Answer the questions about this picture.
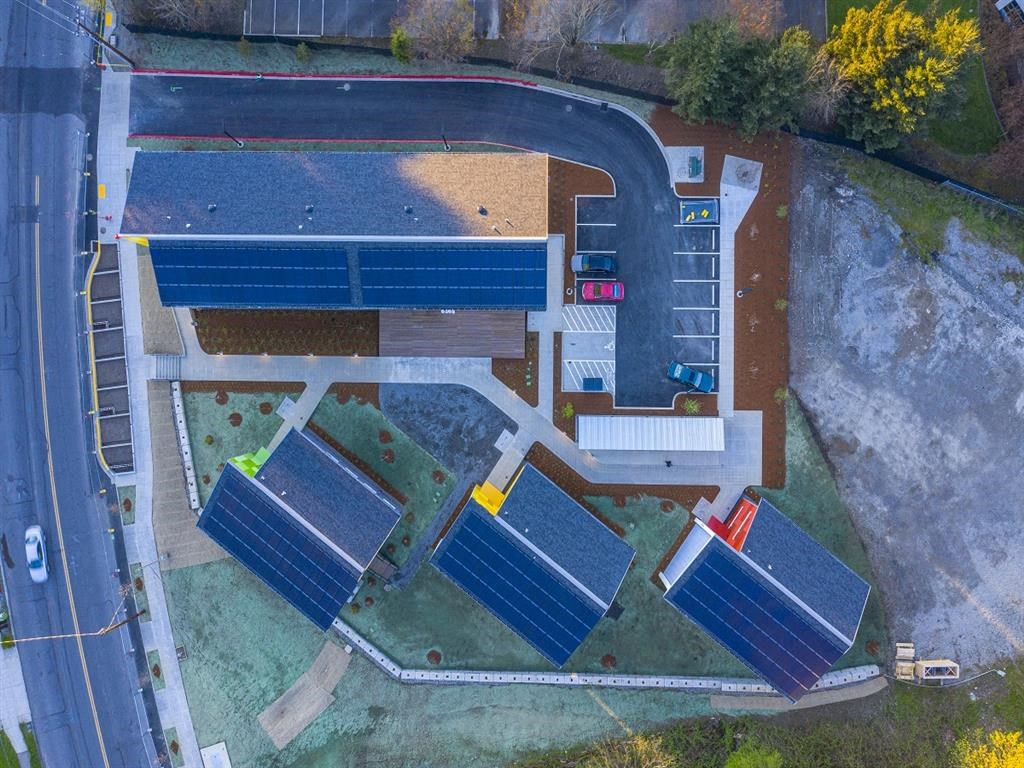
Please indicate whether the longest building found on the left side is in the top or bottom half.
top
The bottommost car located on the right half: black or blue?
blue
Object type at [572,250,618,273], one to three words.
car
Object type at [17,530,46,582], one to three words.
car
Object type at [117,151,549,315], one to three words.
building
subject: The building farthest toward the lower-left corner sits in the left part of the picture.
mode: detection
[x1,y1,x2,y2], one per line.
[196,427,402,632]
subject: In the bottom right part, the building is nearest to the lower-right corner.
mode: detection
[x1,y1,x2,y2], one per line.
[653,497,871,702]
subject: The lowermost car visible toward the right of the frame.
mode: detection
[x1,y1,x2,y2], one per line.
[669,360,718,394]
